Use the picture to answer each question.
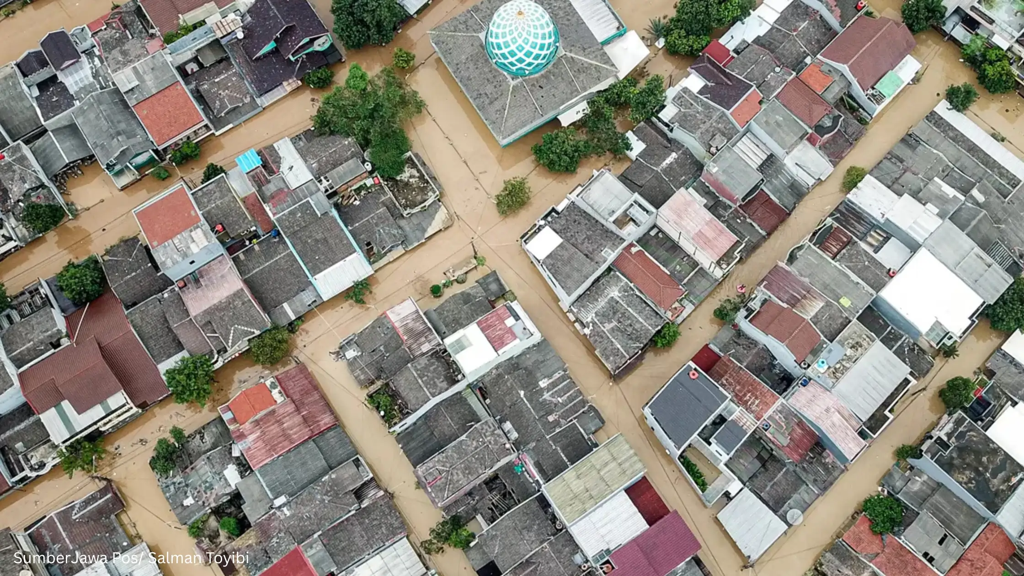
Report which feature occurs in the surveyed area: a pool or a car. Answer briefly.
car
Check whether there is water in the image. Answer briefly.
Yes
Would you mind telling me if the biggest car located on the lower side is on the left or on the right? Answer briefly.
right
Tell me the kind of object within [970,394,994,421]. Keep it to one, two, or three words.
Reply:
car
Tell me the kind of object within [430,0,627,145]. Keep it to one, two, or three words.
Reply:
building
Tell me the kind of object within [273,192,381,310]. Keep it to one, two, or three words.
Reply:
house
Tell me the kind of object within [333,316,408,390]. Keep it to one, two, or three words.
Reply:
house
